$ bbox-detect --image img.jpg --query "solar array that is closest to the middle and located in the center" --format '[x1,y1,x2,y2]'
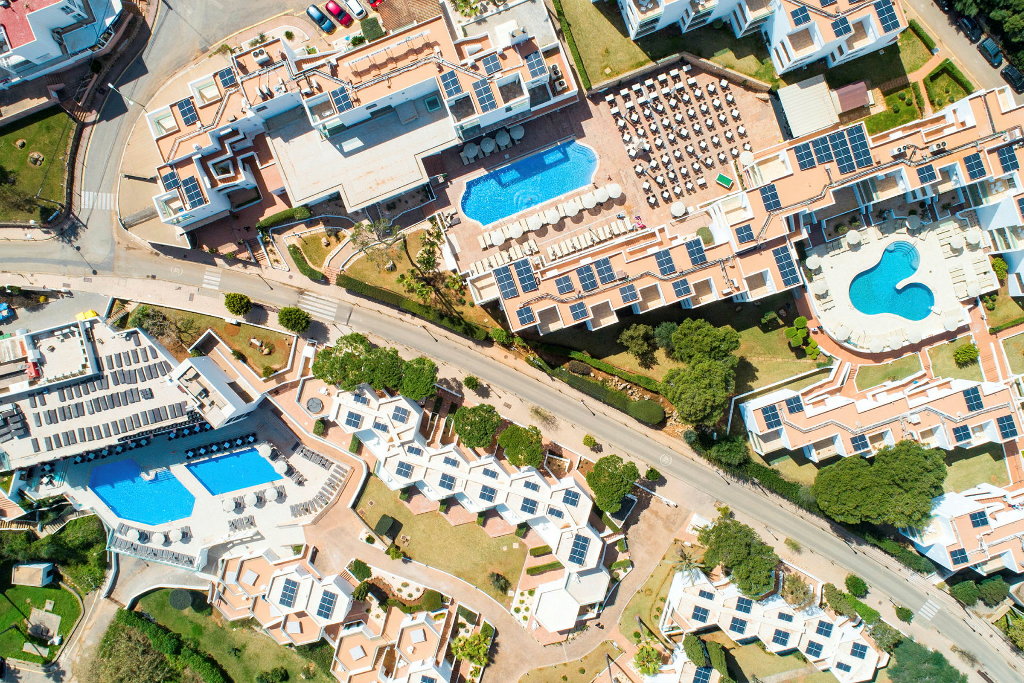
[517,307,535,325]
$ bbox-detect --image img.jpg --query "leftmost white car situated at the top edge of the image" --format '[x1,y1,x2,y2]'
[342,0,369,23]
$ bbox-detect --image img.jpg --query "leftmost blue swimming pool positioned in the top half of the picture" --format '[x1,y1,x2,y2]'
[456,135,602,230]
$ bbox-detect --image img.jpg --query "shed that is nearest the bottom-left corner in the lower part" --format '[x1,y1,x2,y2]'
[12,561,57,587]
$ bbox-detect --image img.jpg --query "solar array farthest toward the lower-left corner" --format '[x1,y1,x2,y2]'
[278,579,299,608]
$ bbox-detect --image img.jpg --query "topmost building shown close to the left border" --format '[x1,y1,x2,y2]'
[0,0,140,81]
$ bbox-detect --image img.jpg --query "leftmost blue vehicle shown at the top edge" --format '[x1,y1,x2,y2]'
[306,4,337,35]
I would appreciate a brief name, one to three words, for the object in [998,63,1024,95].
car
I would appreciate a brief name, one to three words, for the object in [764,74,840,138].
building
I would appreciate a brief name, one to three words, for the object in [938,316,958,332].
umbrella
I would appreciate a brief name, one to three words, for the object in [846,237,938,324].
swimming pool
